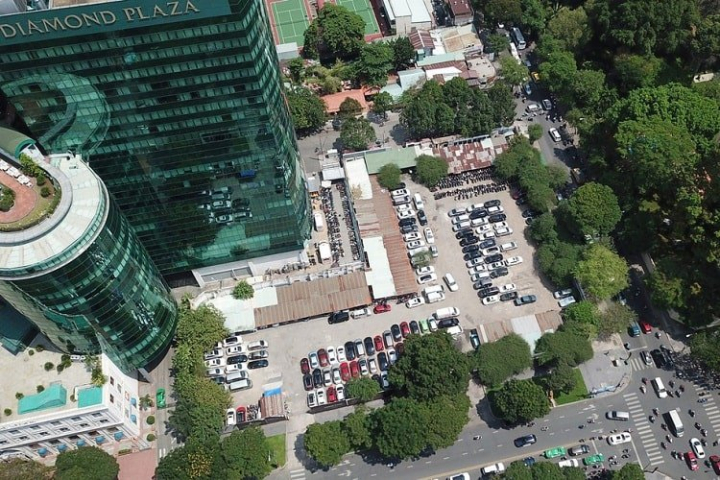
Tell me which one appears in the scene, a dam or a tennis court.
tennis court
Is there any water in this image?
No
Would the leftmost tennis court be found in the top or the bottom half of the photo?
top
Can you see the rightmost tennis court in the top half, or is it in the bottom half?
top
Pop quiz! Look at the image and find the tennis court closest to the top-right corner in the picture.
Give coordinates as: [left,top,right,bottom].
[340,0,399,42]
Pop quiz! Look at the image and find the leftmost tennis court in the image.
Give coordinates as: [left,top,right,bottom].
[269,0,318,54]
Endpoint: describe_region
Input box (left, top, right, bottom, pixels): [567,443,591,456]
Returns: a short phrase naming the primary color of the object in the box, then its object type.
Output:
gray vehicle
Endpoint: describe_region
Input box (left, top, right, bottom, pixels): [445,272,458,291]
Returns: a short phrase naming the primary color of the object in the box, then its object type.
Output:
white vehicle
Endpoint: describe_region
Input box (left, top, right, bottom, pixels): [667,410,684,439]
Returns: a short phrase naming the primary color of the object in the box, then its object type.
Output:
white vehicle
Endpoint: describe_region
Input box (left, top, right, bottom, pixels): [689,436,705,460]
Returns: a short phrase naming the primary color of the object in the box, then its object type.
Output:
white car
